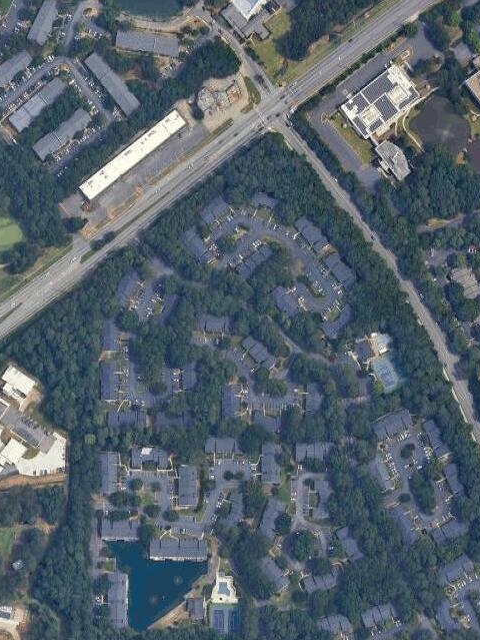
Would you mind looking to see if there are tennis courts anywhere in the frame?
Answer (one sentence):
Yes, the image includes a tennis court.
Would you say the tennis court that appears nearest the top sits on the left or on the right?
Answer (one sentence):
You can find the tennis court that appears nearest the top on the right side of the picture.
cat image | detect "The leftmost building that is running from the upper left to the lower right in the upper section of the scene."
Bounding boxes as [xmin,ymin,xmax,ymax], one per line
[85,50,140,116]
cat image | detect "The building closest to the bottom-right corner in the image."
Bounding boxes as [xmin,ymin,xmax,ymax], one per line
[436,598,460,633]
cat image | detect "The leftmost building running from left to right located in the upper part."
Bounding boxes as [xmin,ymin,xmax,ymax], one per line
[114,28,181,58]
